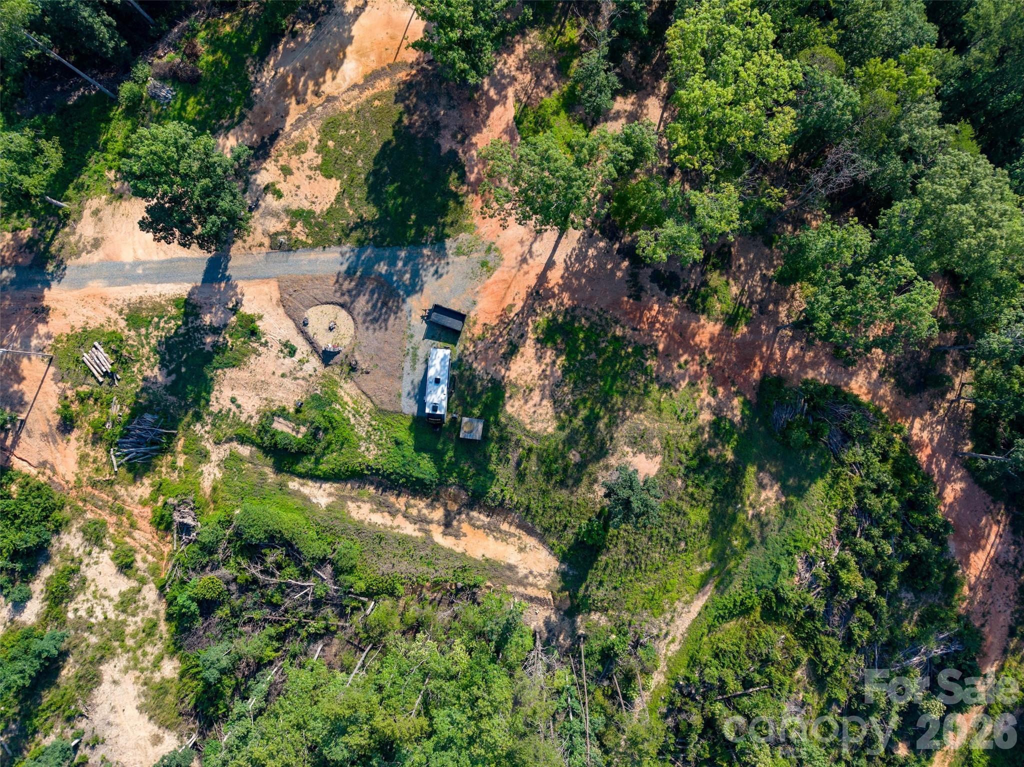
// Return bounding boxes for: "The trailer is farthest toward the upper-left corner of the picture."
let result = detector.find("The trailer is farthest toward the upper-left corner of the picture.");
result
[421,303,467,332]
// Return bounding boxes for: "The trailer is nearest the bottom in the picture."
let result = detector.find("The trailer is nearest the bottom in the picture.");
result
[424,344,454,428]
